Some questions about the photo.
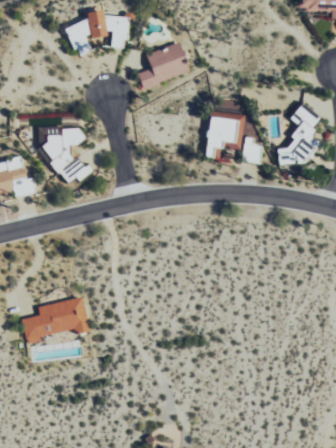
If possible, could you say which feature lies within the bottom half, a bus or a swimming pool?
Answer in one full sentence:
It is a swimming pool that can be seen within the bottom half.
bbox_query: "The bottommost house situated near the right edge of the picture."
[278,106,321,166]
